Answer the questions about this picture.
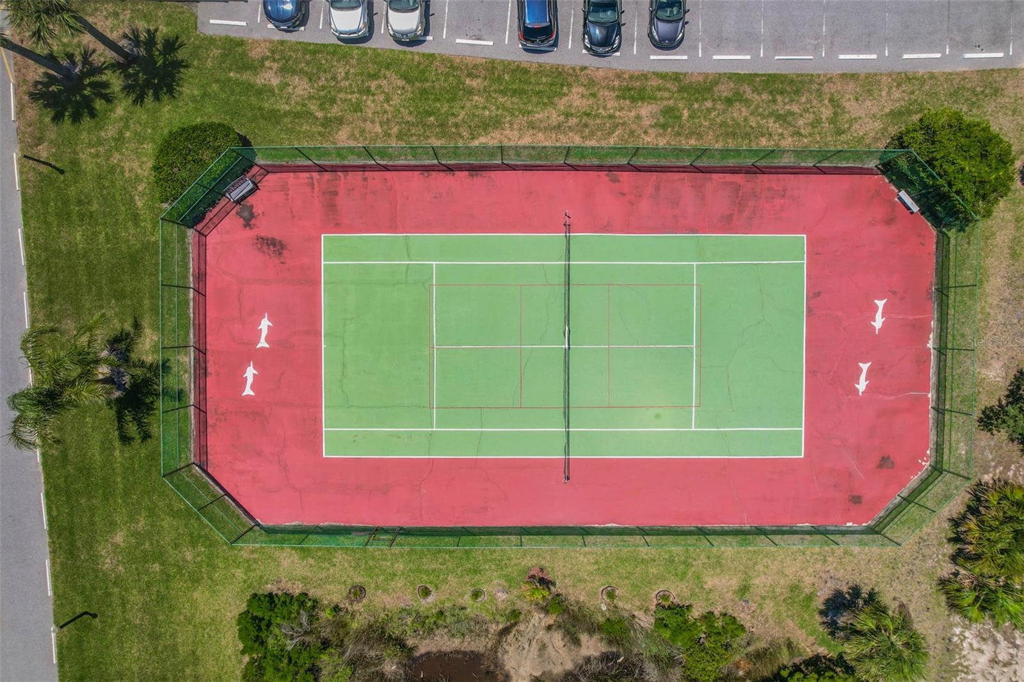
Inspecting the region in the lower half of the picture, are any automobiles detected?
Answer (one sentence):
No, no automobile appears in the lower half of the picture.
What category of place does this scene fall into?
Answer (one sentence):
This image shows a sports ground.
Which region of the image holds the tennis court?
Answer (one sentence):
You can find the tennis court in the center area of the picture.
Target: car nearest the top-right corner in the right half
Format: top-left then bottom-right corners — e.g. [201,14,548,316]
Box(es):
[647,0,692,48]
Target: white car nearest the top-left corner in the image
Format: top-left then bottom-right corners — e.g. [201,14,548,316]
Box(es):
[328,0,371,39]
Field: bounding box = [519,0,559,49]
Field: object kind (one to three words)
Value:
car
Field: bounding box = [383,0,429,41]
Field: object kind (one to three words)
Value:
car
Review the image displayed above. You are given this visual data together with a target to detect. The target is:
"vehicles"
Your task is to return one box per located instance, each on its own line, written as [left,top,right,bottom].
[519,0,559,49]
[328,0,371,39]
[581,0,629,55]
[383,0,429,41]
[263,0,305,29]
[647,0,692,48]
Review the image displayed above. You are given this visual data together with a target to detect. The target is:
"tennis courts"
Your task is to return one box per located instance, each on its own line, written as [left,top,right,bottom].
[189,159,939,531]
